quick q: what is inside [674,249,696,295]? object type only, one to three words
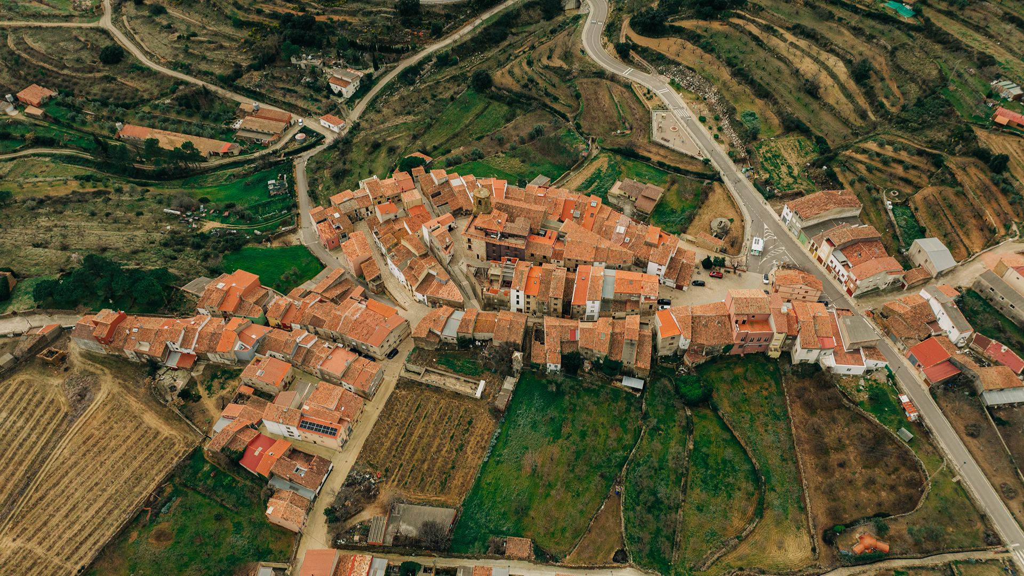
building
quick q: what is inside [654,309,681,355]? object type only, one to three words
house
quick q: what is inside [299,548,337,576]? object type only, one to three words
barn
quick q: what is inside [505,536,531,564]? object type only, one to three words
shed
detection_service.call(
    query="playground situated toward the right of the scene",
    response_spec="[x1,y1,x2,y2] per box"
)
[652,110,702,157]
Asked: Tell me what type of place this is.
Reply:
residential area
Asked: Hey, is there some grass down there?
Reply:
Yes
